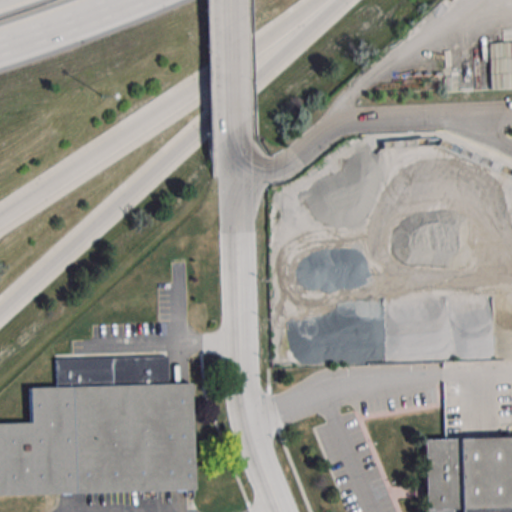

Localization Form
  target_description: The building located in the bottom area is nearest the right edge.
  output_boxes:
[460,436,512,512]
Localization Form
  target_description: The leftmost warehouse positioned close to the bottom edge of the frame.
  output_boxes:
[0,384,197,497]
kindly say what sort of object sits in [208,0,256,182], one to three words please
overpass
